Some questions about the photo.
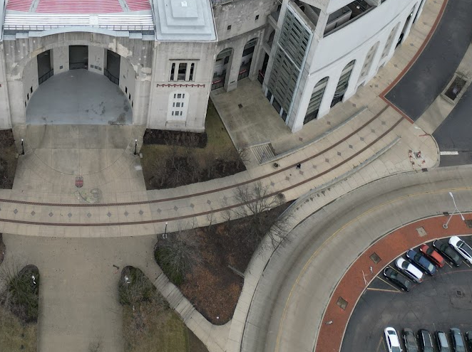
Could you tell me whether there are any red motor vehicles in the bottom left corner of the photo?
No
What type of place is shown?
sports ground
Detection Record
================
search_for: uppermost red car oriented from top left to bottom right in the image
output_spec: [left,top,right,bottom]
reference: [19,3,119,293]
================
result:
[420,241,446,266]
